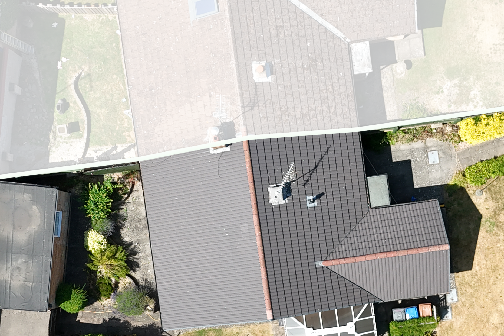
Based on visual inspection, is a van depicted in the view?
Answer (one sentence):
No, there's no van here.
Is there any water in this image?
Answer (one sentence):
No, the scene doesn't show any water.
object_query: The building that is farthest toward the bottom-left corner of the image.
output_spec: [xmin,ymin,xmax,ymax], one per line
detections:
[0,179,69,311]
